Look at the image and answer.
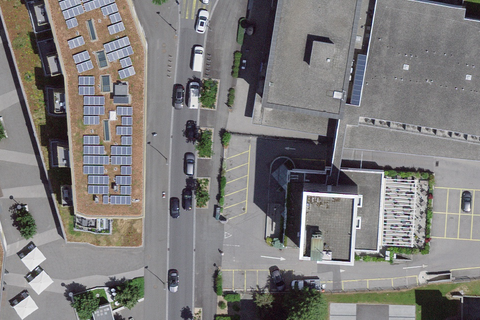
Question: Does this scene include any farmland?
No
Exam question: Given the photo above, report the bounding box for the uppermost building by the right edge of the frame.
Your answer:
[330,0,480,185]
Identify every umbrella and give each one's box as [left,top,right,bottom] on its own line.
[13,296,38,320]
[21,246,46,272]
[28,270,54,294]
